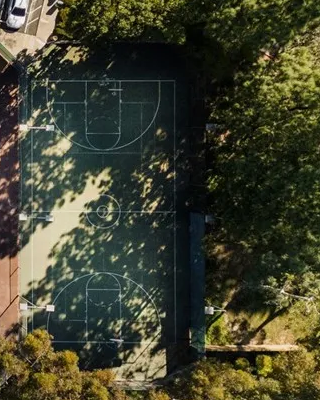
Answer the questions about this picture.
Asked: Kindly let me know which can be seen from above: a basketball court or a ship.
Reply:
basketball court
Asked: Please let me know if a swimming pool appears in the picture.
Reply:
No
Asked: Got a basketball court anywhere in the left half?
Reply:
Yes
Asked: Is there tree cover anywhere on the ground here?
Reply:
Yes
